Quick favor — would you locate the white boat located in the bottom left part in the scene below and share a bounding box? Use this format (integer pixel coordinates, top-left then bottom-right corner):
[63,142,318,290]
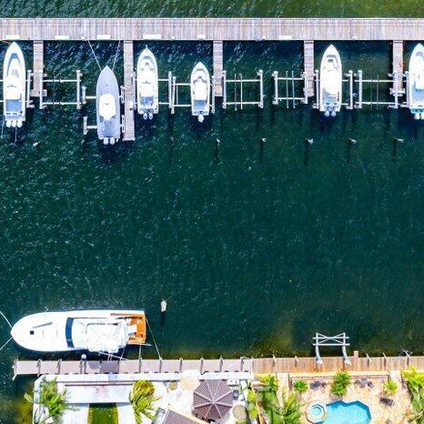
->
[0,309,161,366]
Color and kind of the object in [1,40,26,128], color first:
white boat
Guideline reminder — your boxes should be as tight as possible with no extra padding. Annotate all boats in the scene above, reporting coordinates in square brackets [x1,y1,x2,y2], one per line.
[191,63,210,124]
[1,40,26,128]
[0,309,161,366]
[136,44,158,122]
[89,42,120,146]
[319,44,343,118]
[408,43,424,120]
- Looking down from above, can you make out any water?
Yes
